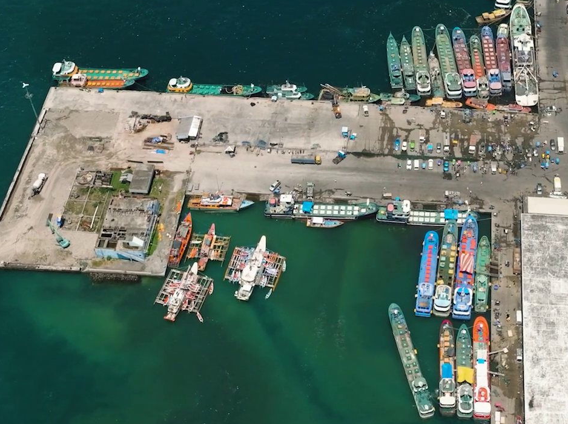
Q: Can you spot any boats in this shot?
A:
Yes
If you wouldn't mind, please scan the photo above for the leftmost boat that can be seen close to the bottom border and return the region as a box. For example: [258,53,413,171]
[391,301,435,423]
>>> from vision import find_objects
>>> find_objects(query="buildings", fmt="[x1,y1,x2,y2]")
[130,165,154,197]
[177,116,202,144]
[94,196,160,264]
[521,214,568,424]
